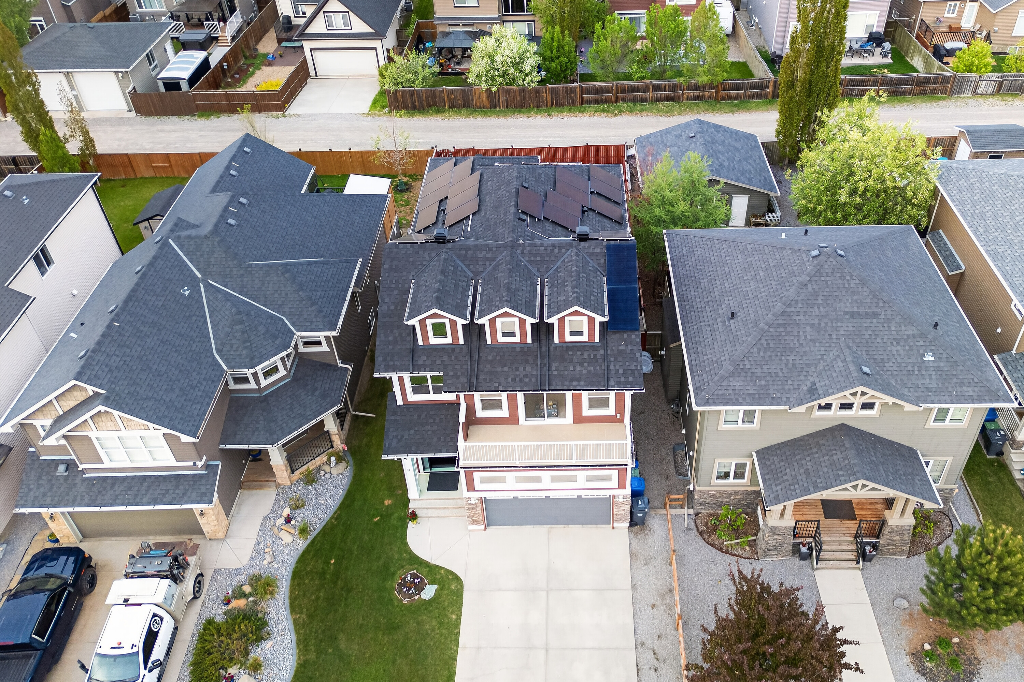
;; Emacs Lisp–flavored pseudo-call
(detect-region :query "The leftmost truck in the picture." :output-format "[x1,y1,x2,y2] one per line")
[0,549,97,682]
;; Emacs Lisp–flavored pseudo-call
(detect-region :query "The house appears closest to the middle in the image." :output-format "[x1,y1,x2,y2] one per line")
[374,156,644,531]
